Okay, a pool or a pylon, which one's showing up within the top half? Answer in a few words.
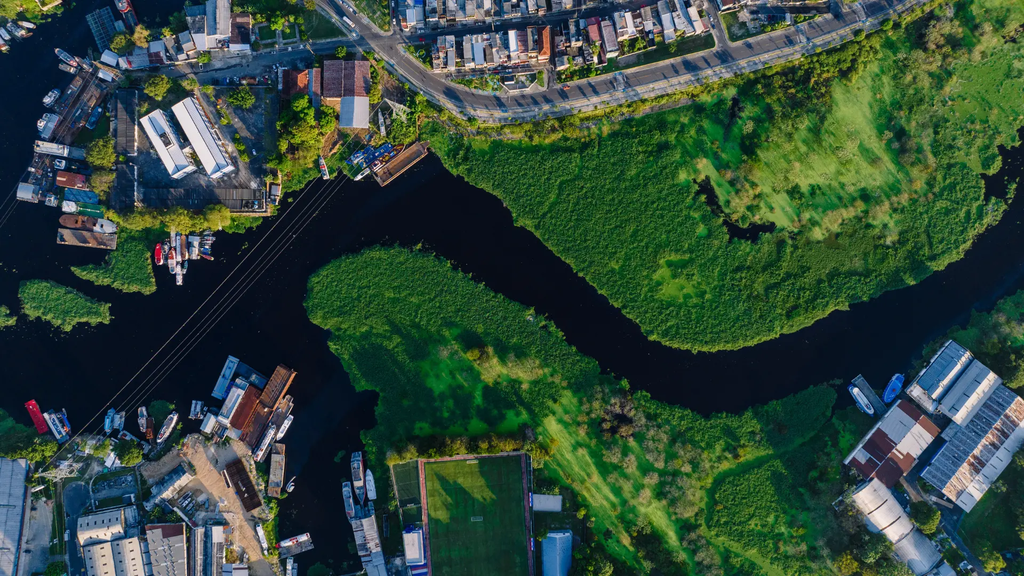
pylon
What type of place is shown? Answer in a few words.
residential area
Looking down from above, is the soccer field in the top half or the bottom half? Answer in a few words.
bottom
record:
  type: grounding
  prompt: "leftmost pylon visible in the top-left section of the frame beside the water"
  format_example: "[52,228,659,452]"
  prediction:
[86,56,127,82]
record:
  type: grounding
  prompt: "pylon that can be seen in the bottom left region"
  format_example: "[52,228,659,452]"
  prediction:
[34,457,83,486]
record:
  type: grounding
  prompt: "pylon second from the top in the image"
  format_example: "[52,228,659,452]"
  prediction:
[385,92,407,118]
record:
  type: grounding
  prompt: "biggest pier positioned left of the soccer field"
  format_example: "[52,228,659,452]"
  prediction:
[279,538,314,559]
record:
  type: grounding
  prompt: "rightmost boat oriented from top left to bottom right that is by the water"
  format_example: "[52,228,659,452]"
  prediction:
[848,384,874,419]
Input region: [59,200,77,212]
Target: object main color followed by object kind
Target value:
white ship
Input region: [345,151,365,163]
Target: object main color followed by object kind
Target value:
blue boat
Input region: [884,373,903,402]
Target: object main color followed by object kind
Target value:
blue boat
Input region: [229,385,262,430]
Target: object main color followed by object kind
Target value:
red ship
